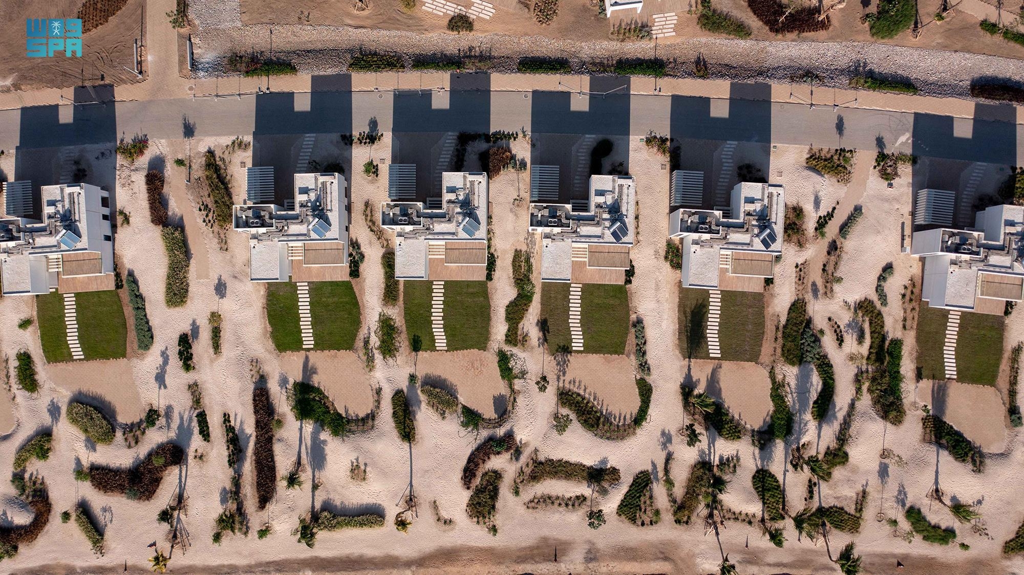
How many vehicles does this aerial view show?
0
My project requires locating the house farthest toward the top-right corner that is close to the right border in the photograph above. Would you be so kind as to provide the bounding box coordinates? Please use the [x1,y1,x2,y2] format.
[912,208,1024,317]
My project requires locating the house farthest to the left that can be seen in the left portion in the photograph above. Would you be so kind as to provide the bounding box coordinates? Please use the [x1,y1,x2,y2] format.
[0,183,117,295]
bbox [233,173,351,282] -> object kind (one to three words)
house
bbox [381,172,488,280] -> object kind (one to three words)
house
